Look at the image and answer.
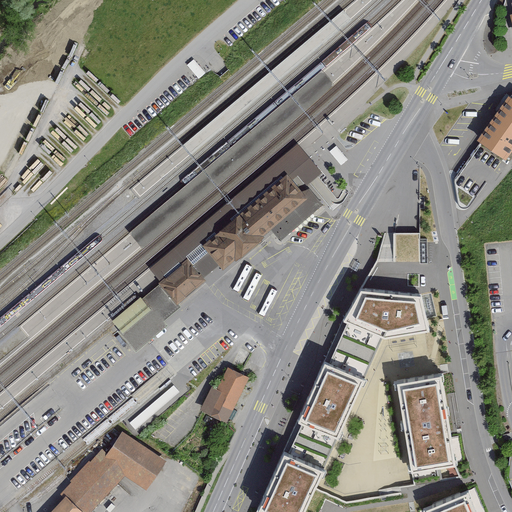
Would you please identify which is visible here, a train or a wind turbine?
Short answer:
train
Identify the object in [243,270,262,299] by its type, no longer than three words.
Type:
vehicle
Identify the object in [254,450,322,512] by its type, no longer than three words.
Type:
building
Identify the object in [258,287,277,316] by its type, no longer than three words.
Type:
vehicle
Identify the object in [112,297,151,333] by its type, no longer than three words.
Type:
shed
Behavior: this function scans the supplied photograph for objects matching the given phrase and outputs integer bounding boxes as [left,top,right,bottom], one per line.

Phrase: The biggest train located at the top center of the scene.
[179,22,368,184]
